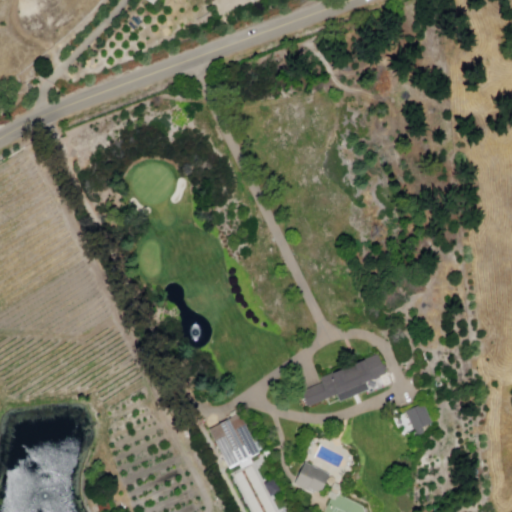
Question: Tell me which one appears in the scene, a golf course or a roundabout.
golf course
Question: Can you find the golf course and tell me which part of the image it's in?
center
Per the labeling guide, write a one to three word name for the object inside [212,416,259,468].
greenhouse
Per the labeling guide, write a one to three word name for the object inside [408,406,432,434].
house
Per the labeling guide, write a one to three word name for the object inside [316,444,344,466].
swimming pool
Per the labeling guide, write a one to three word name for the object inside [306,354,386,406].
house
